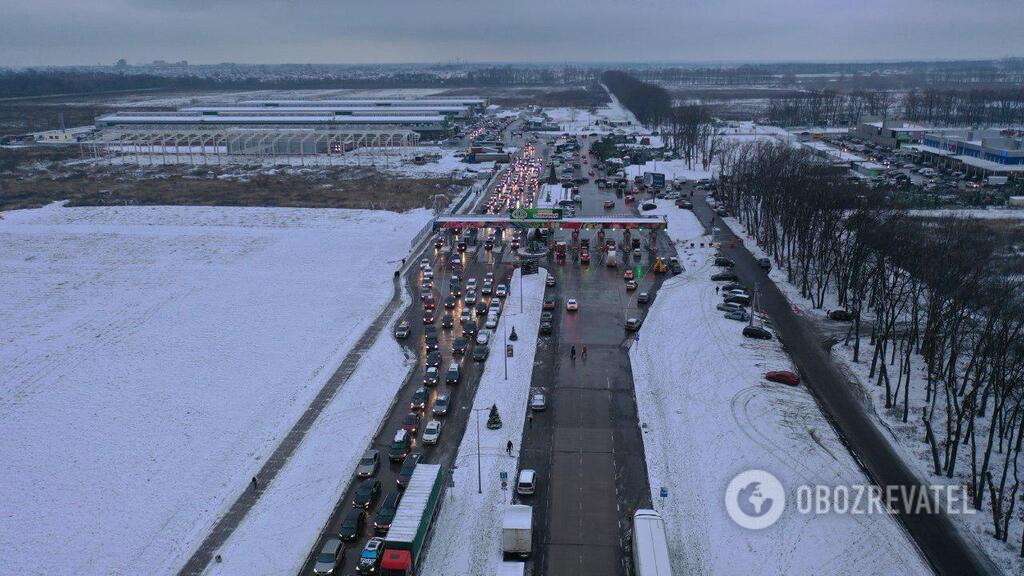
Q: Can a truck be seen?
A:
Yes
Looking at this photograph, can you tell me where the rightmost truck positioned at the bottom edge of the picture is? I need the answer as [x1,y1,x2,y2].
[627,508,671,576]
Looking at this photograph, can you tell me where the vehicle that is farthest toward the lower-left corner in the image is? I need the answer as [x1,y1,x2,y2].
[315,536,347,573]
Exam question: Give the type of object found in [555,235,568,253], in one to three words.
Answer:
vehicle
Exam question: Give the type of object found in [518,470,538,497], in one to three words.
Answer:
car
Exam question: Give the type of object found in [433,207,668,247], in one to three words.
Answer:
toll station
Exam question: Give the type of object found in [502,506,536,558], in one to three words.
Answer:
truck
